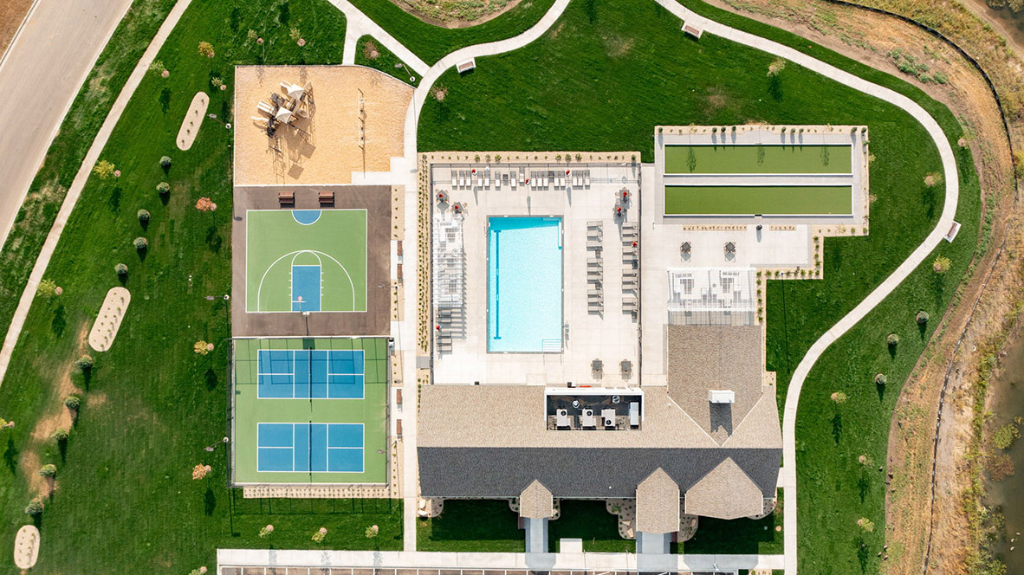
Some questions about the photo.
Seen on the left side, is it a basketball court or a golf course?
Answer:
basketball court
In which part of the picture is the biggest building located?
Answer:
bottom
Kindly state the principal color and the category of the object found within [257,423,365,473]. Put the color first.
blue sports court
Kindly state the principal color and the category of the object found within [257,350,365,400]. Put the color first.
blue sports court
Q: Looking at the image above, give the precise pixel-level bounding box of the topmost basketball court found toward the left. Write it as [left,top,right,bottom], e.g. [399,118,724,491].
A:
[233,185,390,336]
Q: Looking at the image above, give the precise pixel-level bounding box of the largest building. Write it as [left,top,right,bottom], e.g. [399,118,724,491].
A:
[417,325,785,537]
